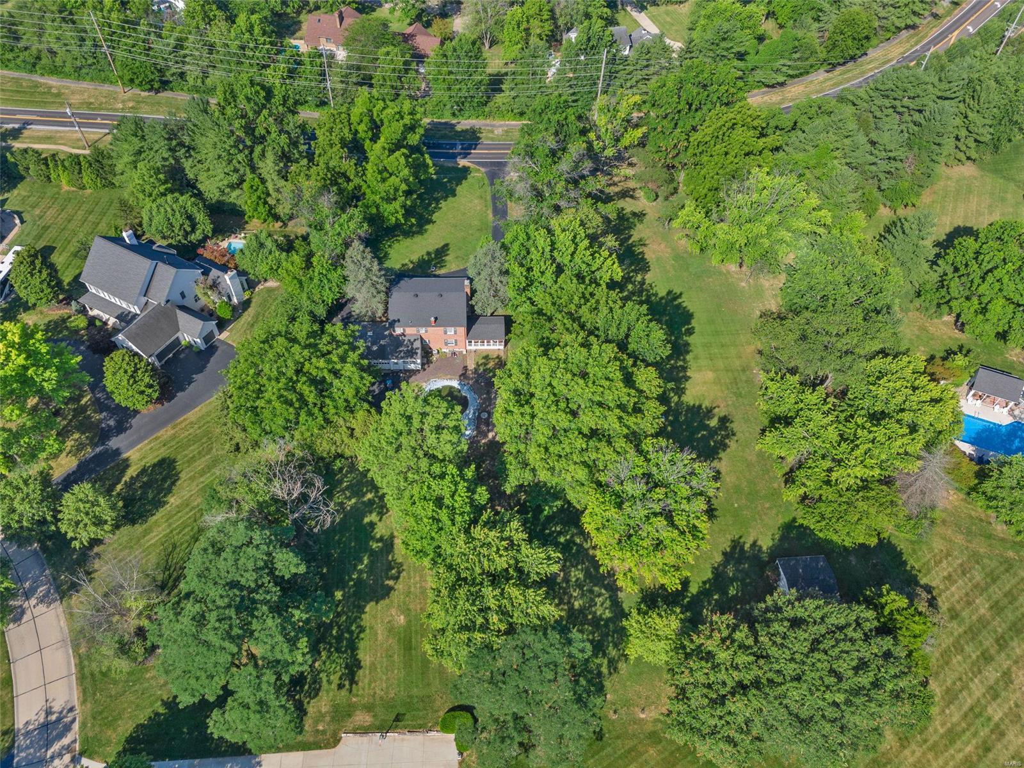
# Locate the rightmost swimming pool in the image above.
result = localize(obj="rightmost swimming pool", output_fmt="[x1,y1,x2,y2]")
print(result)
[949,396,1024,480]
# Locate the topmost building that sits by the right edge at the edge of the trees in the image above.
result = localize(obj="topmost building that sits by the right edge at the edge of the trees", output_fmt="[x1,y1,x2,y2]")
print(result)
[962,363,1024,426]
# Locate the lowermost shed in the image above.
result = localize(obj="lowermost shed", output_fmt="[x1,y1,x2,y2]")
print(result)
[769,556,840,601]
